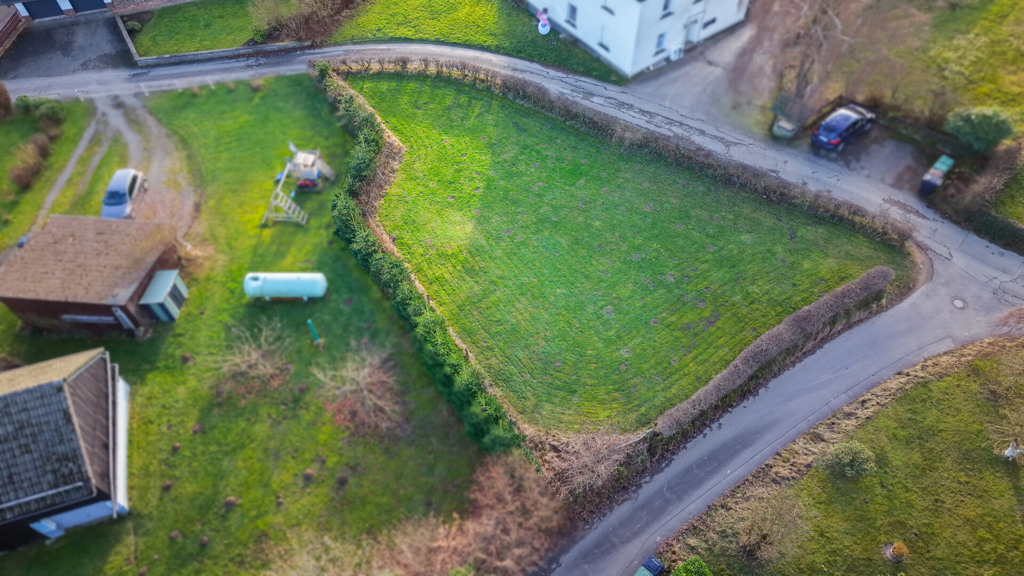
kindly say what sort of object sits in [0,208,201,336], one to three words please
shed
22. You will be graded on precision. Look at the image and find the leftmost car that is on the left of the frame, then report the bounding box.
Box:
[93,170,144,214]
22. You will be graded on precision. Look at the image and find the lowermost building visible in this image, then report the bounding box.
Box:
[0,347,129,550]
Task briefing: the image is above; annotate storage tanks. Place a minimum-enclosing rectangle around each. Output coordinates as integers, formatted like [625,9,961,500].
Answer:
[243,275,327,304]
